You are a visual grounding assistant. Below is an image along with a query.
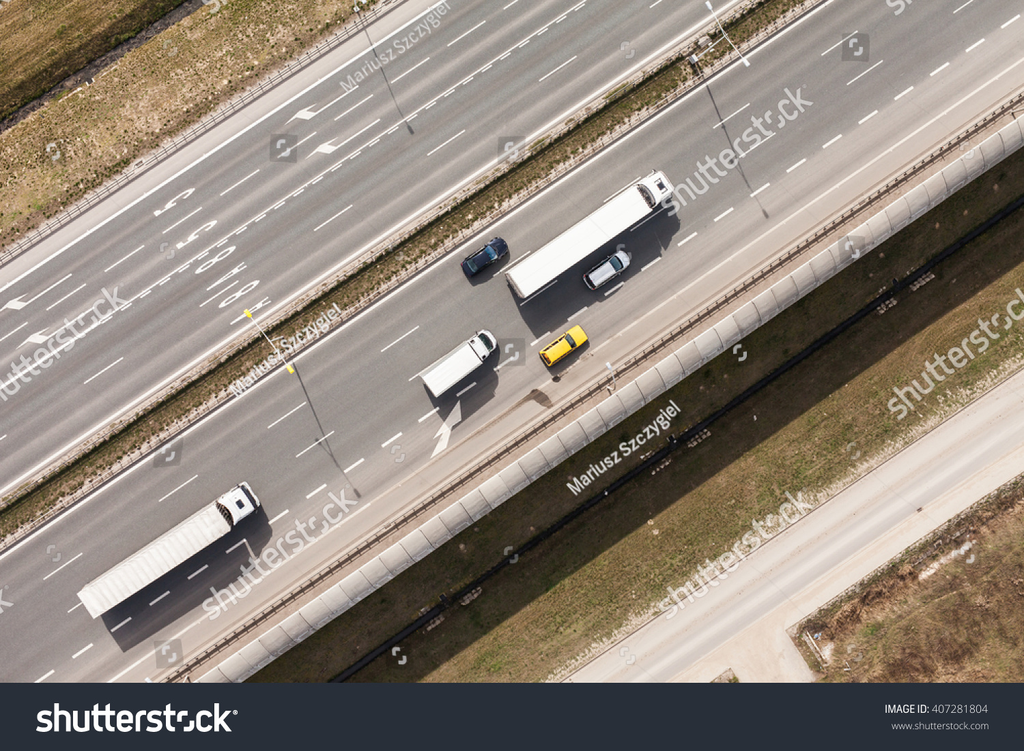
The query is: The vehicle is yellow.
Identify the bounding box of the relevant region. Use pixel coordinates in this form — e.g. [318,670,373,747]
[538,325,588,367]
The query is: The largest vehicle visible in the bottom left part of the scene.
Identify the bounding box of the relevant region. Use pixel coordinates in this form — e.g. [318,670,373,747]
[77,480,266,619]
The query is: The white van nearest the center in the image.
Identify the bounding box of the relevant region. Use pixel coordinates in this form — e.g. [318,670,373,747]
[422,330,499,397]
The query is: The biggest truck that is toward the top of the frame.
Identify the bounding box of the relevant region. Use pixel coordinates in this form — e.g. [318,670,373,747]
[503,166,676,298]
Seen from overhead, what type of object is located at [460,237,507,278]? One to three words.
car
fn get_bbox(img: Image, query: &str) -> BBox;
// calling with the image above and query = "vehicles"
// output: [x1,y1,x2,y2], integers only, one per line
[503,166,676,298]
[422,330,499,397]
[460,237,507,278]
[77,480,266,619]
[538,325,588,367]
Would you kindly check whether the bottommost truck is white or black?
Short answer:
white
